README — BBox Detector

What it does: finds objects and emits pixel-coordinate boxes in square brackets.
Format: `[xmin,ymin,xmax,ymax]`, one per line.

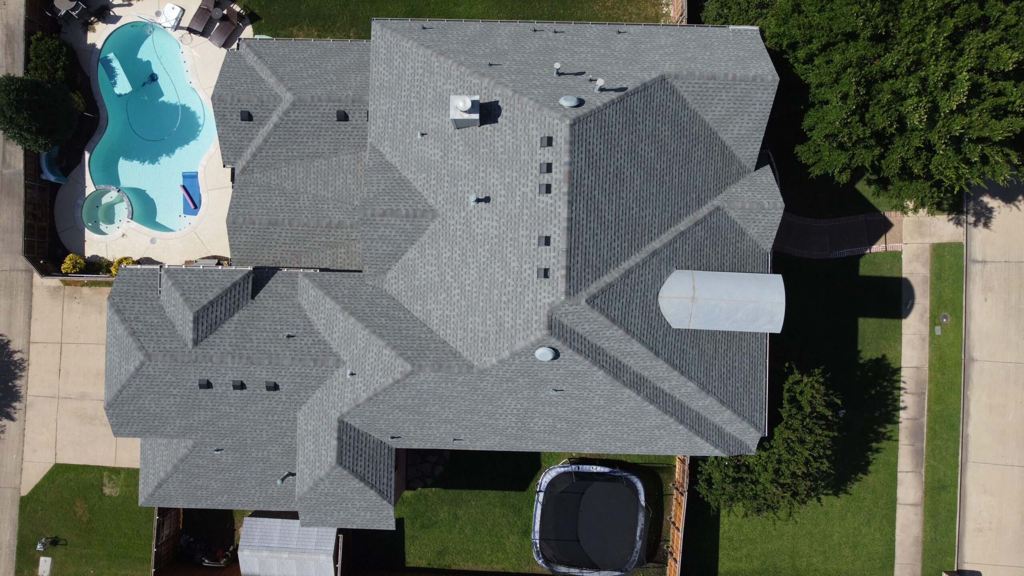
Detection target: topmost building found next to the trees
[103,16,785,529]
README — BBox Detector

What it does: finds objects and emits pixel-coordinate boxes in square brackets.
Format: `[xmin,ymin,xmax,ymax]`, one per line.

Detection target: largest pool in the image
[78,14,220,239]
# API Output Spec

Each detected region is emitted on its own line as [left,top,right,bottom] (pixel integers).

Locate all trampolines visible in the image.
[527,458,653,576]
